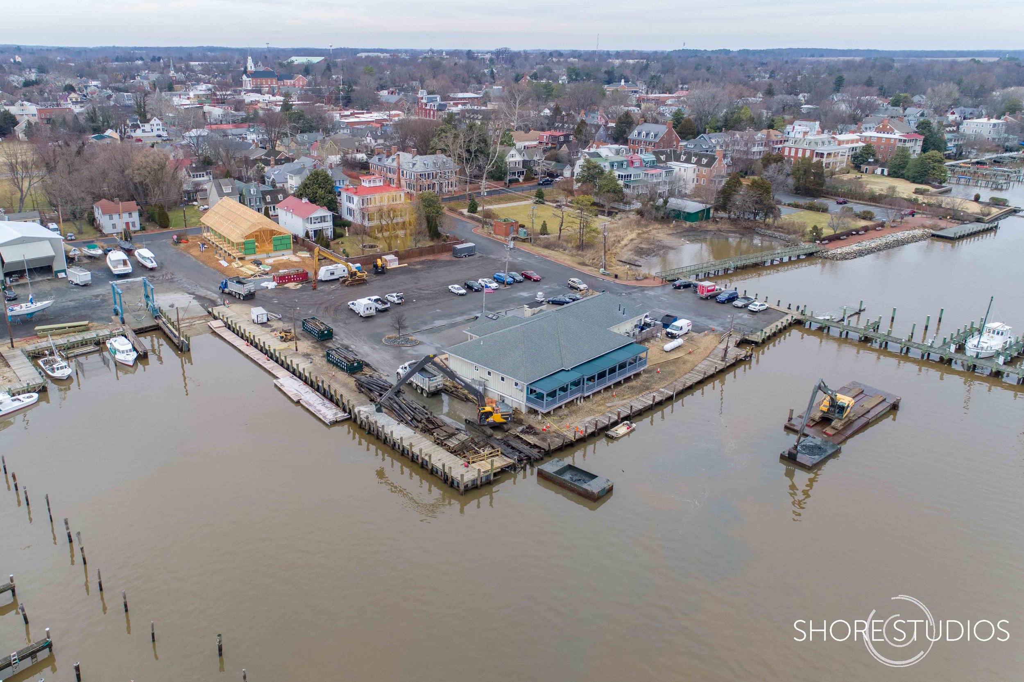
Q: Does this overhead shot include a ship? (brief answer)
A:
Yes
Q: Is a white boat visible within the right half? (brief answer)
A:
Yes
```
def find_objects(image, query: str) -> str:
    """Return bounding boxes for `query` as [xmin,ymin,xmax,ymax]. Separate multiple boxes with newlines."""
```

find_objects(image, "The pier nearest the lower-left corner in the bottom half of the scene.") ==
[0,626,58,672]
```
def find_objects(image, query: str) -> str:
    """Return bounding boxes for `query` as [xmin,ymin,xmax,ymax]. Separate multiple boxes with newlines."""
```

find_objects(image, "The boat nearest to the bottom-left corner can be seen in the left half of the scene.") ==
[0,387,45,413]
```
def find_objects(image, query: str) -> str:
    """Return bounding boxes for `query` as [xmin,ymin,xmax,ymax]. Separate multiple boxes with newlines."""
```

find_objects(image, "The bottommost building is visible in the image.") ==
[444,292,655,415]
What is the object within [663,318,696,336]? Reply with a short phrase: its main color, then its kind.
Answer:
white vehicle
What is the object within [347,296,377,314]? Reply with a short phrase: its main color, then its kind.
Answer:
white vehicle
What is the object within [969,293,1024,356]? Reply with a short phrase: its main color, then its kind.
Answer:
white boat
